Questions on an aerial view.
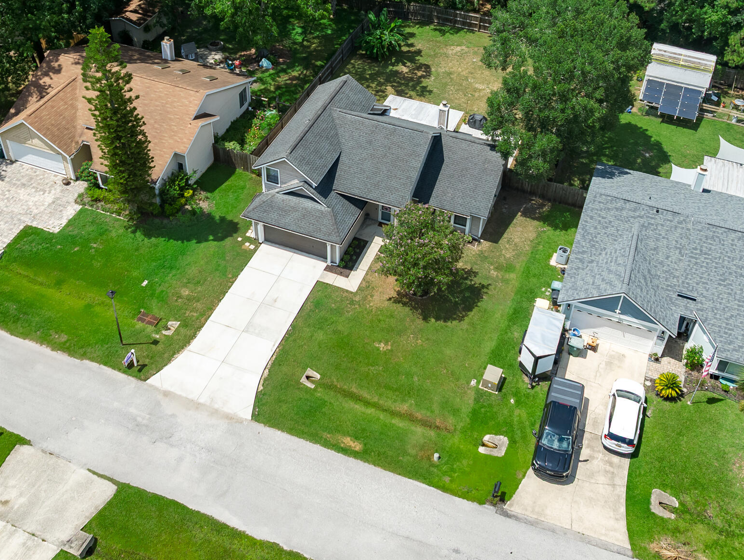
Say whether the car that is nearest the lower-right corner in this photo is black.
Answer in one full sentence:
No, the car that is nearest the lower-right corner is white.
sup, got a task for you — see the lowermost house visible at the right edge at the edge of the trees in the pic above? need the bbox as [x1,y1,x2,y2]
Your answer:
[557,161,744,384]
